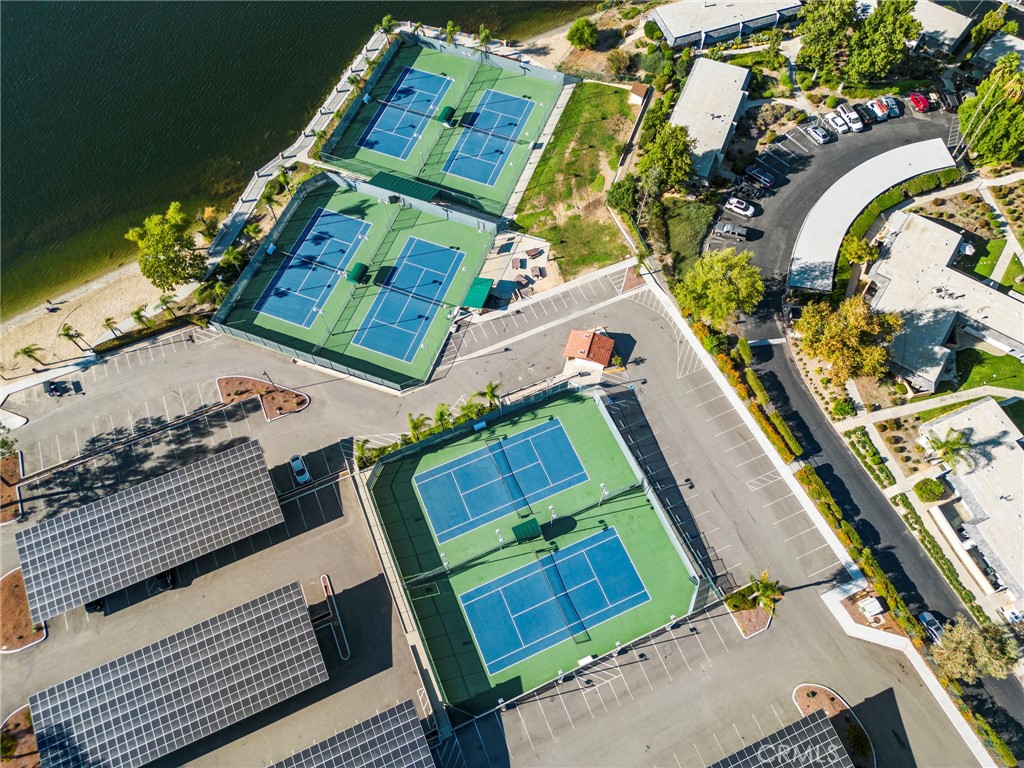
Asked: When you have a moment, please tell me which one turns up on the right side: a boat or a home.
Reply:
home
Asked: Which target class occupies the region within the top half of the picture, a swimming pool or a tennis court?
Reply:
tennis court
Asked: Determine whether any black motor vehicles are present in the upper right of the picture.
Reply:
Yes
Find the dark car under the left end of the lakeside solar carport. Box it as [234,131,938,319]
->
[82,599,106,623]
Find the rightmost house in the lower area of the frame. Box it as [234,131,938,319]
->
[913,395,1024,619]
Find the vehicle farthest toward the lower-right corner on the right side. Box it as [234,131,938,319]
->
[920,609,950,641]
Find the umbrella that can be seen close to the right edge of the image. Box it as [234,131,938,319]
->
[957,242,975,258]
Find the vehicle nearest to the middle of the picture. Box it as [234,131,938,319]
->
[288,455,310,486]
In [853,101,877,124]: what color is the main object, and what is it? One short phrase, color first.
black truck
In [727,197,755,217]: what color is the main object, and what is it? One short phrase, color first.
white car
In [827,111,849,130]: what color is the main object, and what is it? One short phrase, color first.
white car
